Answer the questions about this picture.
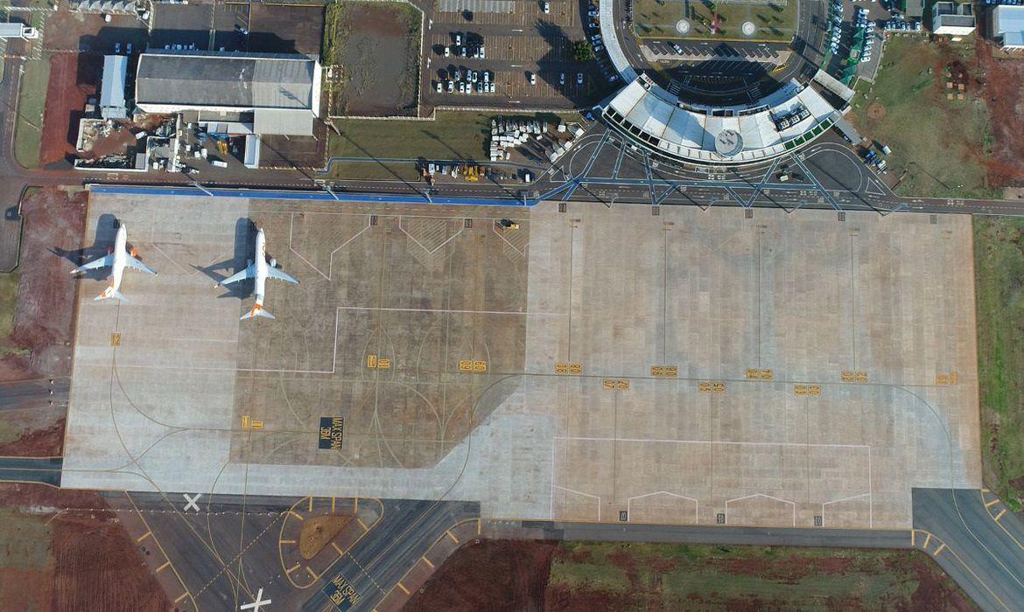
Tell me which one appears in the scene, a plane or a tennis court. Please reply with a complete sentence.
There is a plane in the scene.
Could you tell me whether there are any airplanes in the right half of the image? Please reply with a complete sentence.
No, no airplane can be made out in the right half of the image.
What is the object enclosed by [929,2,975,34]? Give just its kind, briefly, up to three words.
building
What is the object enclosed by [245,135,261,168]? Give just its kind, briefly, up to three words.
building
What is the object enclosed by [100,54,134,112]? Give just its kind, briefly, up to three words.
shed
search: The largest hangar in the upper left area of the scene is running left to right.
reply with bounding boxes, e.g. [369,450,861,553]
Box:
[135,54,321,117]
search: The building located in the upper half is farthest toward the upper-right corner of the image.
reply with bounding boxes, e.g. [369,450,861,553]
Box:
[994,6,1024,50]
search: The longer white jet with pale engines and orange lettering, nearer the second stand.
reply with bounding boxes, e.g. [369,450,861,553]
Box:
[216,228,299,314]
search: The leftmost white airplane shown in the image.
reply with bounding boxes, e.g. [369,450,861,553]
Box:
[73,224,156,297]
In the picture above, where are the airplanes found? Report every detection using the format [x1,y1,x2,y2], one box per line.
[73,224,156,297]
[216,228,299,314]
